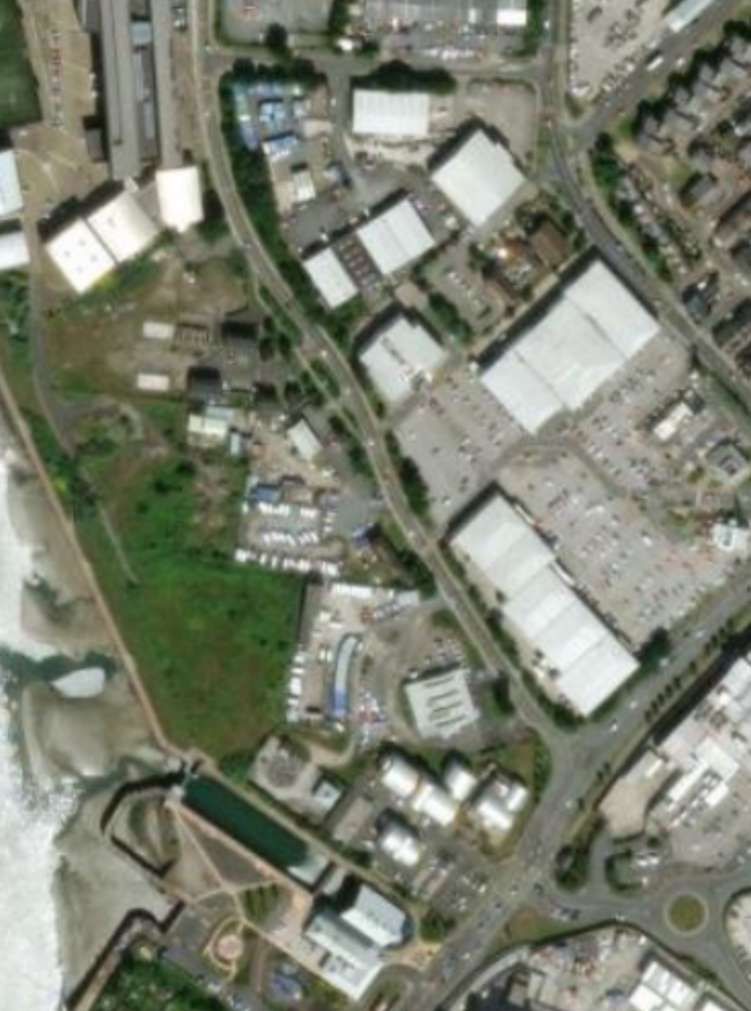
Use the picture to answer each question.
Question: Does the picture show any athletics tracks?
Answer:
No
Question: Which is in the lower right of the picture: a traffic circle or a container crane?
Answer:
traffic circle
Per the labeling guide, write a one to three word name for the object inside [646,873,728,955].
roundabout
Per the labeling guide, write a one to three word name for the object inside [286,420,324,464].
building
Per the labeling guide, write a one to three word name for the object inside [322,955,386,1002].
building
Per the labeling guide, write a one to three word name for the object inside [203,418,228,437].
shed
